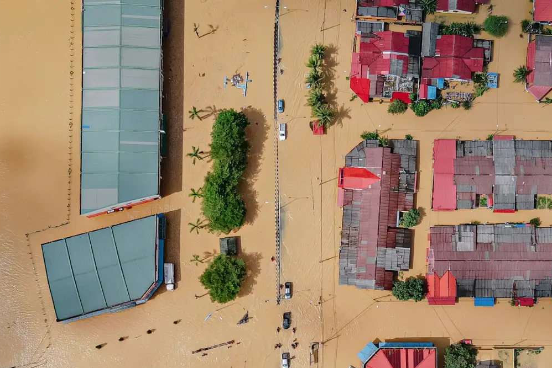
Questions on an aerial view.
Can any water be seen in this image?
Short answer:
Yes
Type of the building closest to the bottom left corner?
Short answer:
warehouse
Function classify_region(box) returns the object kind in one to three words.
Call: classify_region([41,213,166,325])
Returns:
warehouse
